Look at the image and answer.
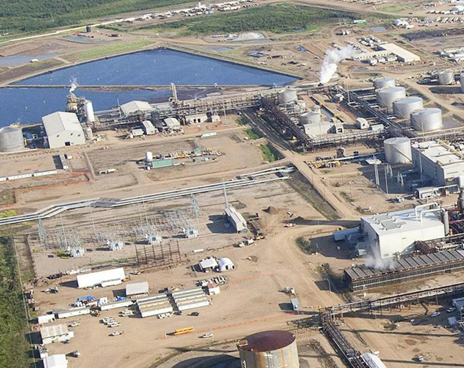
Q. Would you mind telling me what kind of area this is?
industrial area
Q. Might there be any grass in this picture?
Yes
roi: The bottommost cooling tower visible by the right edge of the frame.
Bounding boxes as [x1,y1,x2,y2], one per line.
[344,252,464,291]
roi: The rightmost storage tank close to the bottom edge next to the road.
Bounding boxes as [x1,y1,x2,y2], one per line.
[235,327,301,368]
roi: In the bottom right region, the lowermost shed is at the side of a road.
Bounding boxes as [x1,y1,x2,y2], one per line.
[358,340,393,368]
